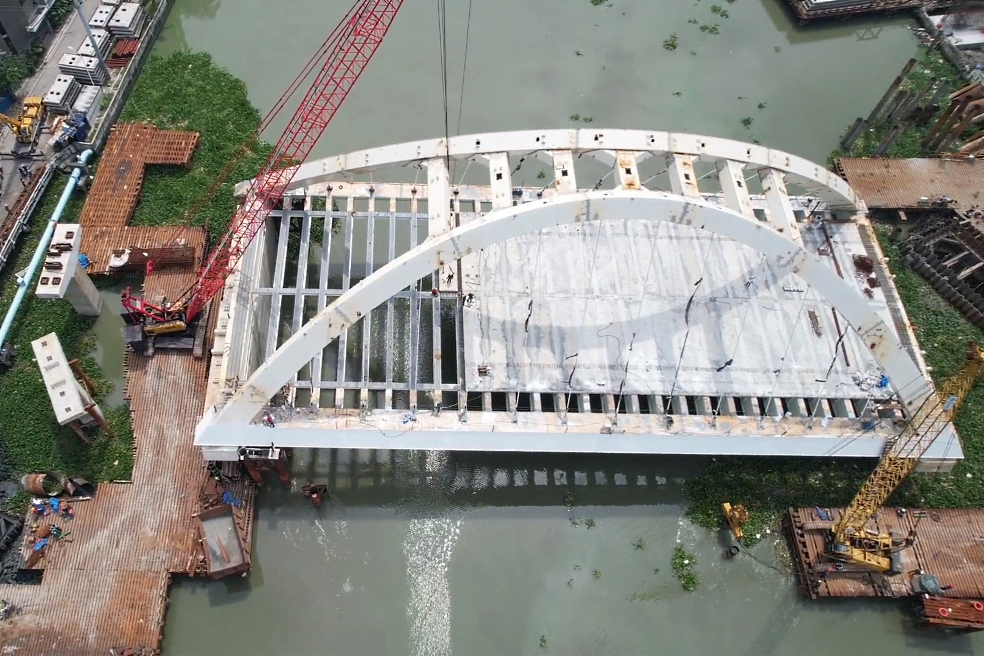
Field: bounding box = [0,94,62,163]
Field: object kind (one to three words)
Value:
truck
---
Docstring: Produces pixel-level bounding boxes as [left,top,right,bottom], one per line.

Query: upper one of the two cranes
[109,0,470,361]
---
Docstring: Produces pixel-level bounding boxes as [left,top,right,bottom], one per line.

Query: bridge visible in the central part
[193,131,965,459]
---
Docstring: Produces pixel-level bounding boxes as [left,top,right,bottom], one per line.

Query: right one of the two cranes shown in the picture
[795,330,984,579]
